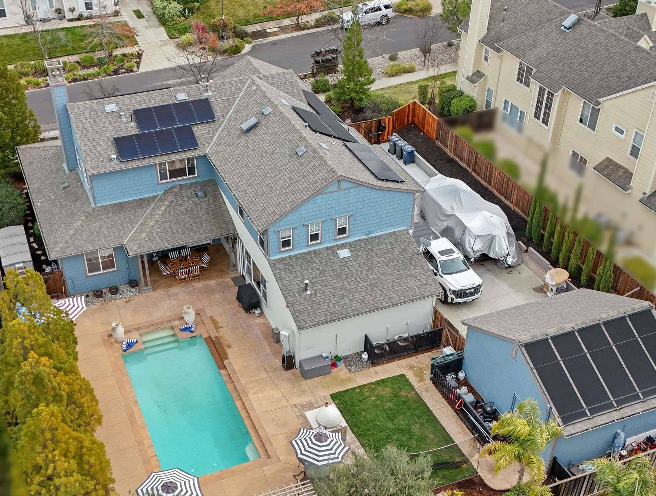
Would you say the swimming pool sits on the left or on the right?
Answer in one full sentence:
The swimming pool appears in the left half of the scene.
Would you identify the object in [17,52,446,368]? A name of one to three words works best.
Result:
house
